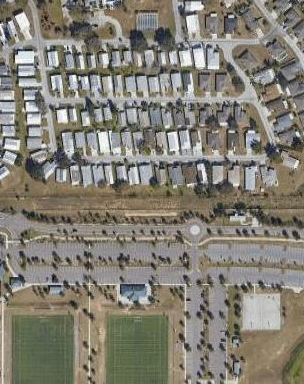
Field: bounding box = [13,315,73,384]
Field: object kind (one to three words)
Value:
sports field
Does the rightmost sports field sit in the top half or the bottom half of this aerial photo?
bottom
